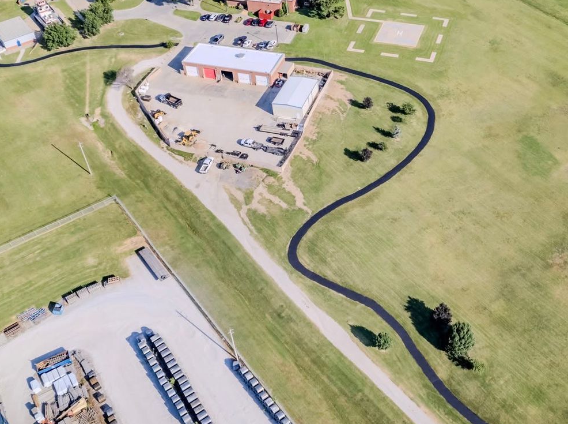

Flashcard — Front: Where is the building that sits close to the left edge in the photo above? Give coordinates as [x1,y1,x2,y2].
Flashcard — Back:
[0,18,38,53]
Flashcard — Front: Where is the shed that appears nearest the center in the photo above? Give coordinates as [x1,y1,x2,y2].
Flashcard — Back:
[272,76,319,122]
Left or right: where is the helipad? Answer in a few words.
right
